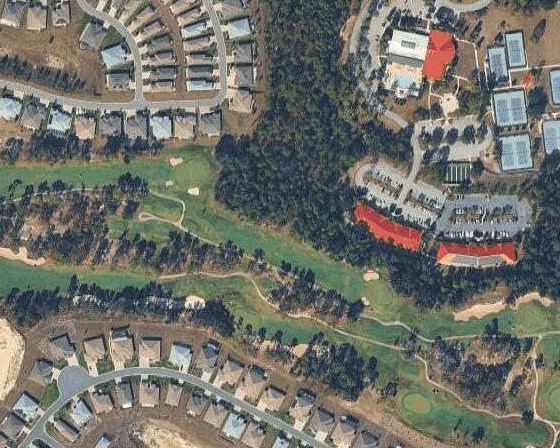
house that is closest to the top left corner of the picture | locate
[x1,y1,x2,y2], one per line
[1,0,24,24]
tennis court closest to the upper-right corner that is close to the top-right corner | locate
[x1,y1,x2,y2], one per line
[504,31,526,67]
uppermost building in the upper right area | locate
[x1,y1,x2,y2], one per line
[388,29,456,79]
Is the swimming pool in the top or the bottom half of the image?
top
